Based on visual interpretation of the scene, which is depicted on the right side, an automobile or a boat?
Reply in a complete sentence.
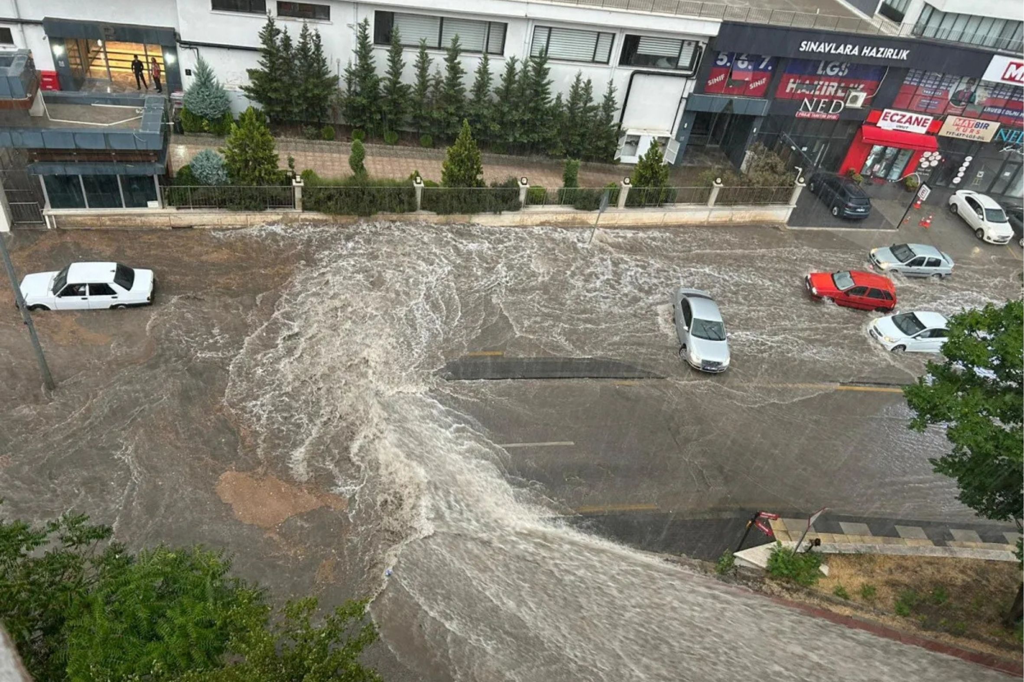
It is an automobile that can be seen on the right side.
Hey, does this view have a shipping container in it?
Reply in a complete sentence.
No, I can't see a single shipping container in this photo.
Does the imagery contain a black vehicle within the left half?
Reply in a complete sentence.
No, there's no black vehicle to be seen within the left half.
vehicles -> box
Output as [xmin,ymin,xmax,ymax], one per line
[804,170,883,226]
[674,284,734,372]
[23,260,156,310]
[863,240,960,276]
[1000,200,1024,239]
[866,310,975,355]
[944,190,1019,248]
[802,267,900,311]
